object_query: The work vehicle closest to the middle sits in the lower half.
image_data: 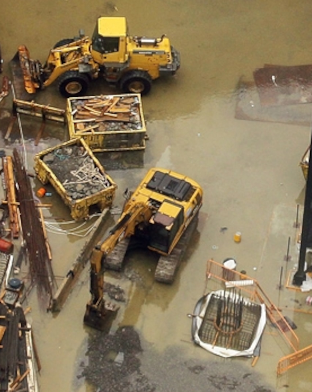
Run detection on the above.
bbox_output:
[79,170,201,325]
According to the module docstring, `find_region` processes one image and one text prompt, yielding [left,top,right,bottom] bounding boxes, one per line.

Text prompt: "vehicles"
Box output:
[8,23,179,103]
[79,170,201,325]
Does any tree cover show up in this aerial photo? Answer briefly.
No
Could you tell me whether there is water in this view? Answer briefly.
Yes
